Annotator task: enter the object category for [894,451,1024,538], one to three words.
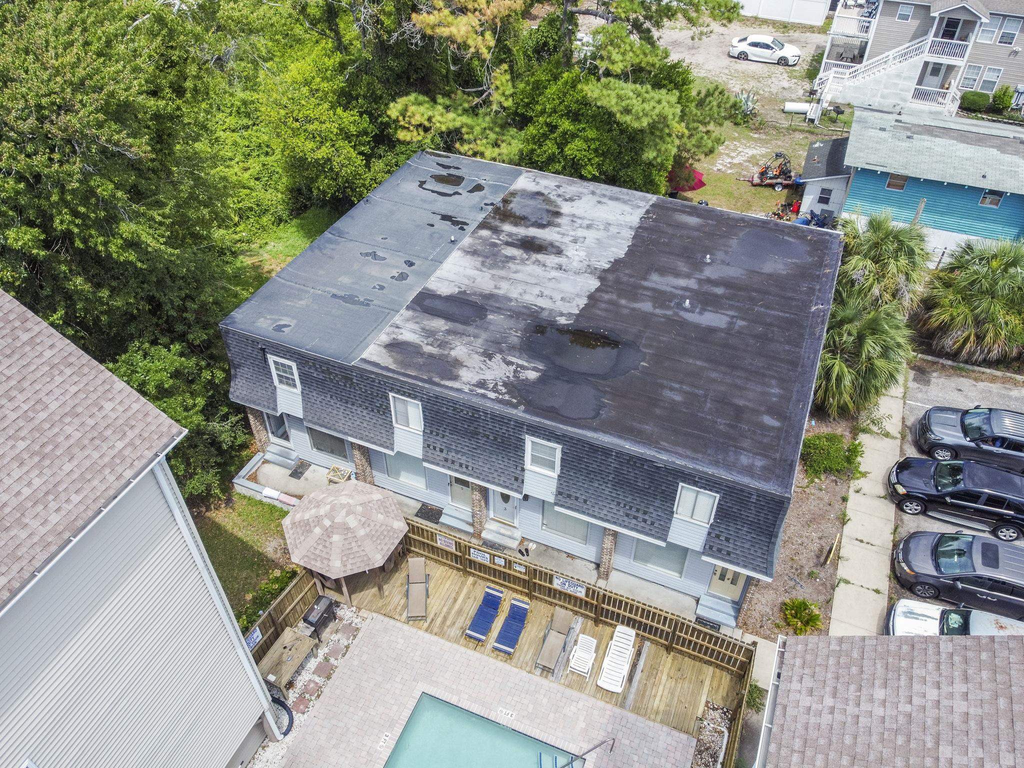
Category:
car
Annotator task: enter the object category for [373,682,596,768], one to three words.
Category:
swimming pool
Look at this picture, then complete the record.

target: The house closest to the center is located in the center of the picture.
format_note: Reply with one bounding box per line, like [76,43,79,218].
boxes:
[218,148,847,631]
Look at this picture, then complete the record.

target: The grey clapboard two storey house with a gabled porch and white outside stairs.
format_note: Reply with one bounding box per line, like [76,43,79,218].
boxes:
[810,0,1024,113]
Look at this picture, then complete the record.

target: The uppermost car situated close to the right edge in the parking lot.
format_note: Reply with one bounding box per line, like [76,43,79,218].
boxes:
[923,400,1024,467]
